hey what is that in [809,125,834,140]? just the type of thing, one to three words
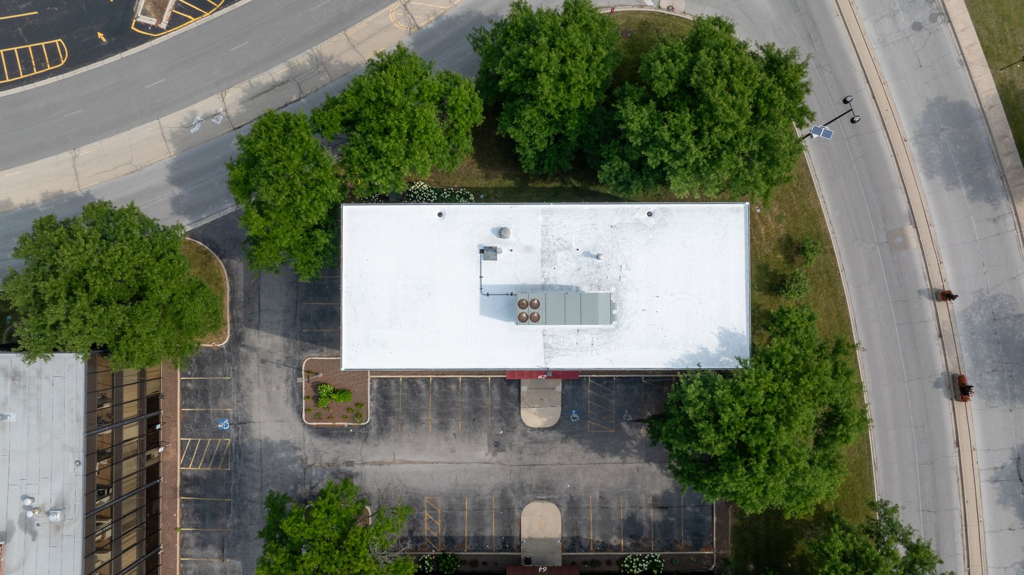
solar panel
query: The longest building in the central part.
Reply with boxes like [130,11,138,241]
[340,202,751,379]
